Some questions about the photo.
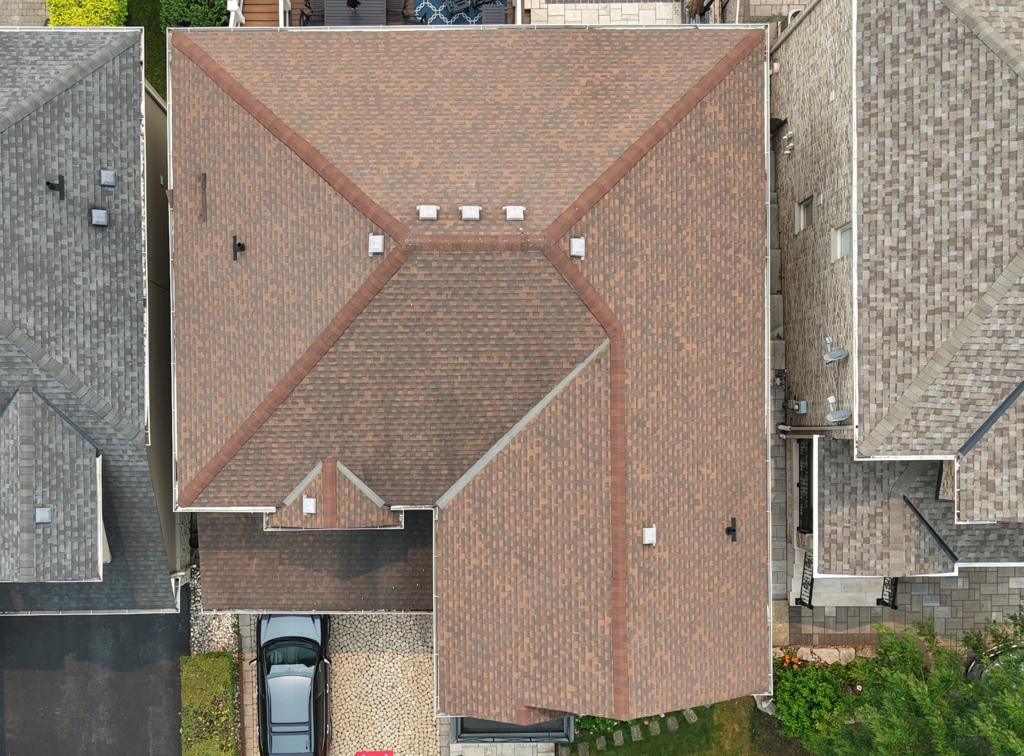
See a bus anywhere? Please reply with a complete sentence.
No, there appears to be no bus in this shot.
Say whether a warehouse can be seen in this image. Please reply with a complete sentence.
No, there is no warehouse in the image.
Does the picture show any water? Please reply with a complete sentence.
No, there's no water in this view.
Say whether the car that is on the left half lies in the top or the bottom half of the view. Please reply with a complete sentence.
The car that is on the left half is in the bottom half of the image.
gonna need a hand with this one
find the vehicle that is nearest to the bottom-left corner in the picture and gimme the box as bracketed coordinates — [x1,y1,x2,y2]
[250,614,336,756]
